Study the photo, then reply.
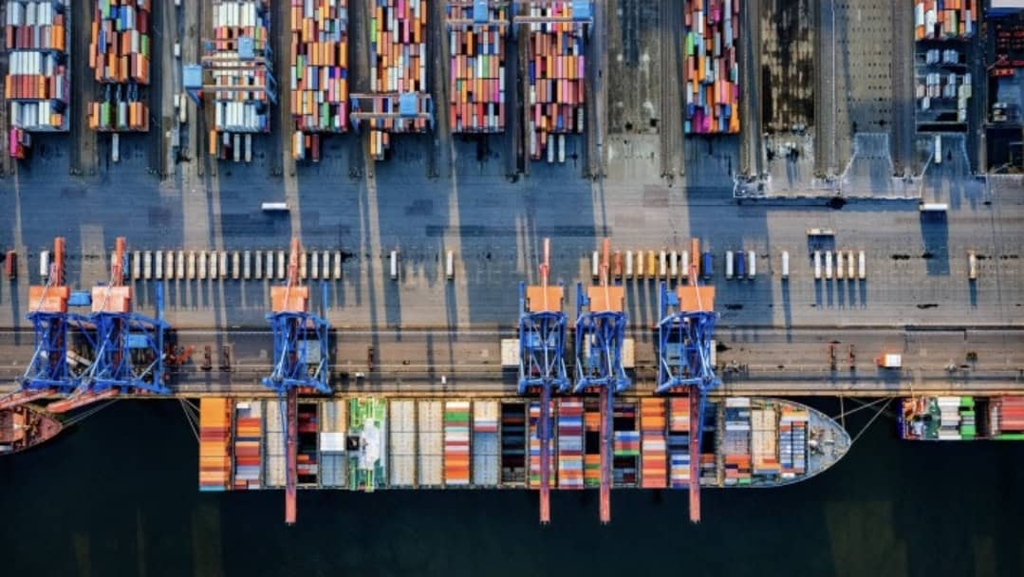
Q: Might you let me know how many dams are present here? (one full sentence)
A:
The picture shows no dams.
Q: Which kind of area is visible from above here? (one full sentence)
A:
This image shows a port.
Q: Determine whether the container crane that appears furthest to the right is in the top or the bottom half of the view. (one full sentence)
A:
The container crane that appears furthest to the right is in the bottom half of the image.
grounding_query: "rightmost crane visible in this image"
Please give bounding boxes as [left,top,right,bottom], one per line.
[650,240,719,524]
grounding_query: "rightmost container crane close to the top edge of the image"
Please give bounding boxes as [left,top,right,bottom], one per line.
[514,0,594,33]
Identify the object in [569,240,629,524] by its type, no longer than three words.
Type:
container crane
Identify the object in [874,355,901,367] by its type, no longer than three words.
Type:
vehicle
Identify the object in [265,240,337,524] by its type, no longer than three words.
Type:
container crane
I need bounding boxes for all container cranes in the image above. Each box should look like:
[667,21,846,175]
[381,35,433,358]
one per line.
[650,240,719,524]
[202,41,280,71]
[183,65,280,98]
[0,240,117,419]
[515,240,568,524]
[39,240,181,425]
[514,0,594,33]
[351,94,434,126]
[569,240,629,524]
[265,240,337,524]
[446,1,512,34]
